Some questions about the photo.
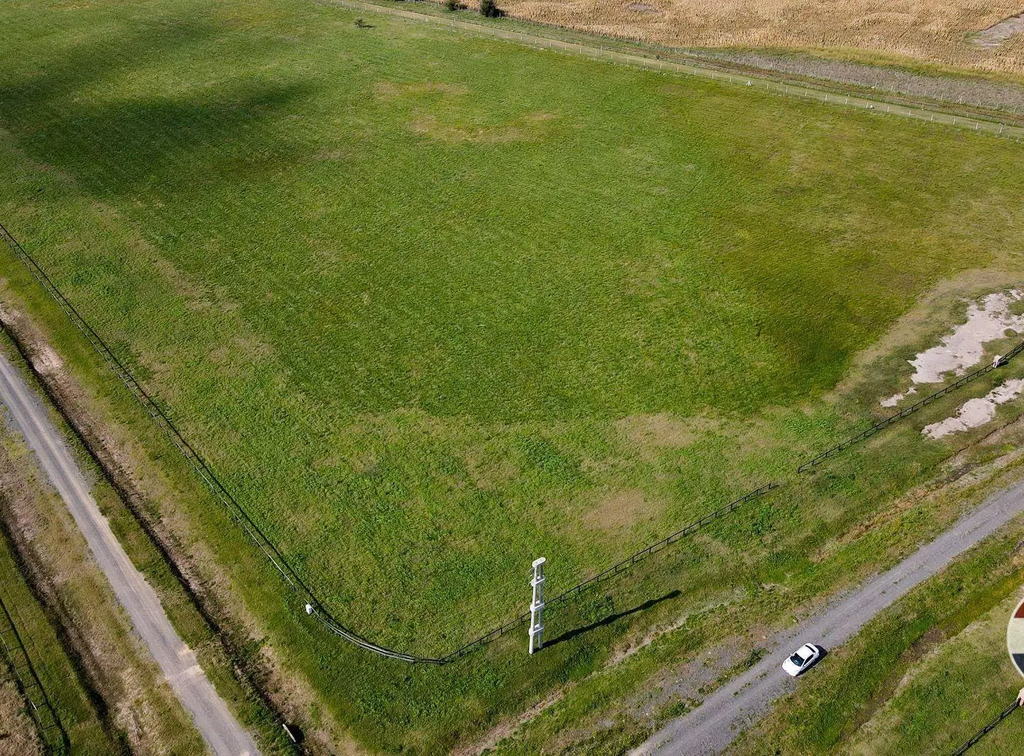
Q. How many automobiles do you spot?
one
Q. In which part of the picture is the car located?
bottom right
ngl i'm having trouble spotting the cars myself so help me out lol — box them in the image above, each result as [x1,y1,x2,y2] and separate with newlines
[783,640,825,681]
